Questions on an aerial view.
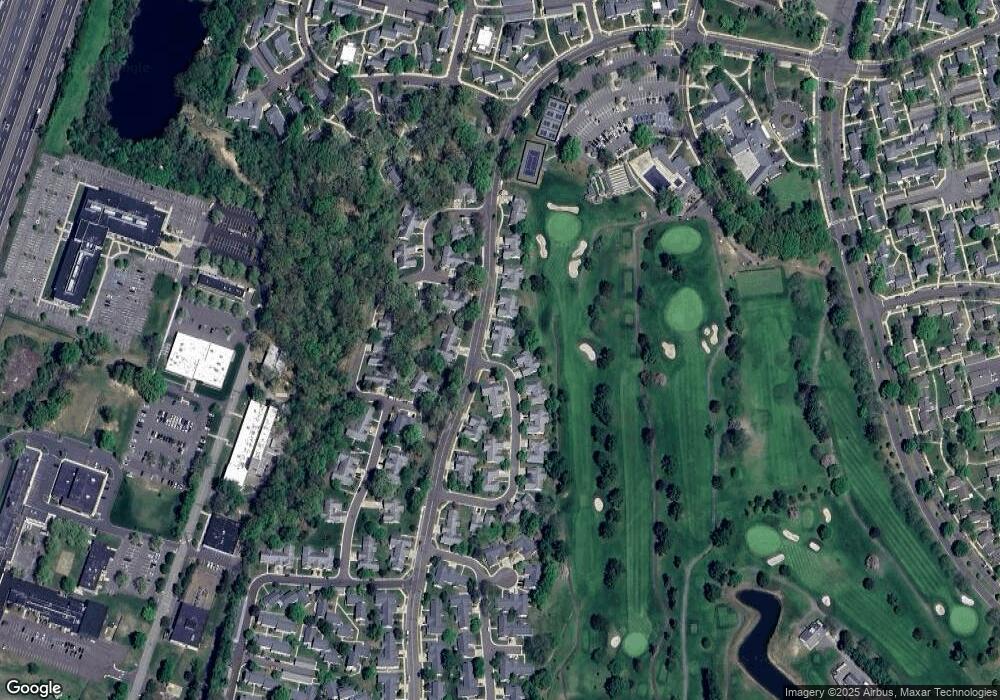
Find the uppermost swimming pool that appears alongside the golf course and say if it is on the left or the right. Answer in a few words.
right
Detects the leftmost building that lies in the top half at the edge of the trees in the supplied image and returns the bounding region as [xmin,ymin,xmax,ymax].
[54,187,169,309]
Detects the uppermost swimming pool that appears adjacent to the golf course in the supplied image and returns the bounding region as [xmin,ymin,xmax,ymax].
[630,151,679,201]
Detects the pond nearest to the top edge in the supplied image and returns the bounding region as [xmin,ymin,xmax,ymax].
[108,0,208,139]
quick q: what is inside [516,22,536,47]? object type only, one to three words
house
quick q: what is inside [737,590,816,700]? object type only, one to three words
pond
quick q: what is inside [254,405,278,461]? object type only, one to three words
building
